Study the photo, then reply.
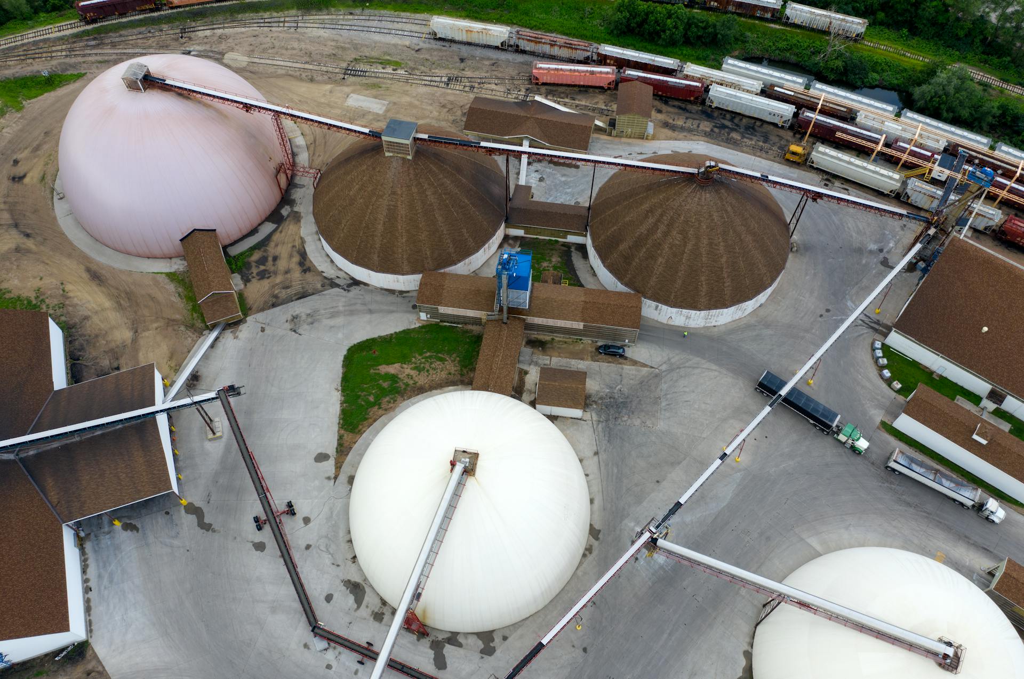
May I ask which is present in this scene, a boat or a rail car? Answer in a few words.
rail car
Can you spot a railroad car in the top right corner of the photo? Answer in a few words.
Yes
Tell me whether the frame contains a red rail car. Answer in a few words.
Yes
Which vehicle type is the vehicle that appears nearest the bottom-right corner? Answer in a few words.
truck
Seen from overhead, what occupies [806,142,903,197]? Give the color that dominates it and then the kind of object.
gray rail car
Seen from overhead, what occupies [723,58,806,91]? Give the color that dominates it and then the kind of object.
gray rail car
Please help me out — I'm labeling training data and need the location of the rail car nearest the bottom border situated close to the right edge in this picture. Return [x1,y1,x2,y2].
[990,216,1024,251]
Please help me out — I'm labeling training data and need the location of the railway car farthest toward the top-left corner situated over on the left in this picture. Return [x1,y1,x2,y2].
[77,0,165,21]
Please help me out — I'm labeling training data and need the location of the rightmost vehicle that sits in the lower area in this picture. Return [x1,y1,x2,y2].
[885,448,1005,525]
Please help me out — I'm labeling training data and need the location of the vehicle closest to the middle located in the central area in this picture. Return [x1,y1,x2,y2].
[597,344,625,358]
